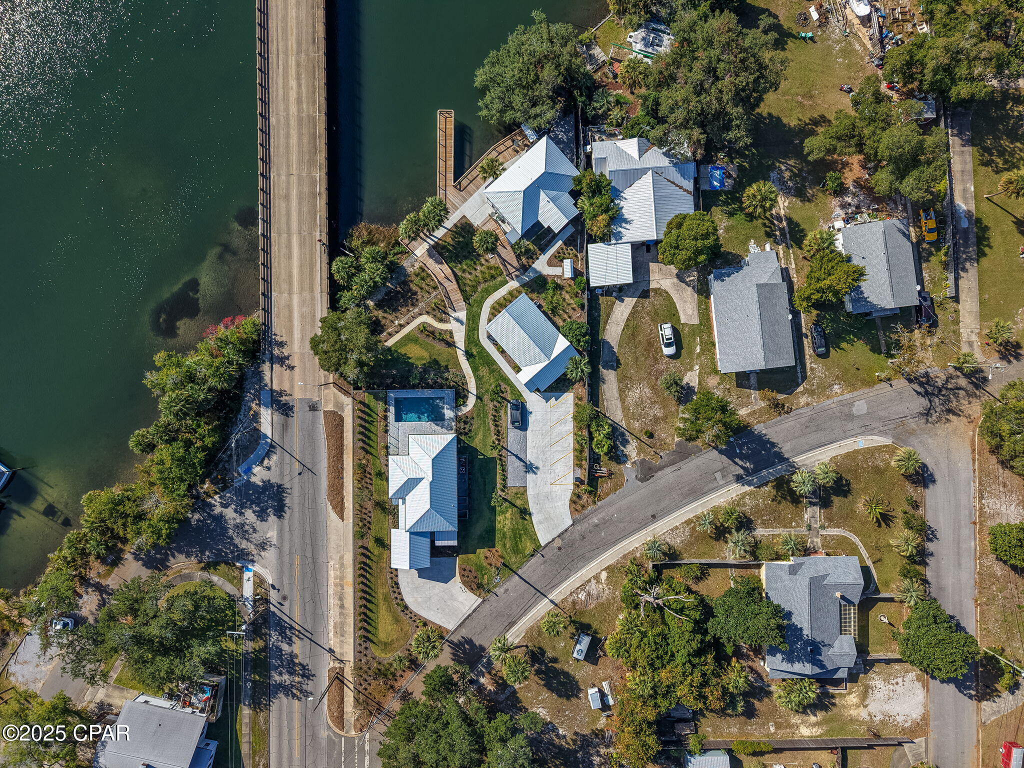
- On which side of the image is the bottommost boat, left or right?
left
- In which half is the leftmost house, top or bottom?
bottom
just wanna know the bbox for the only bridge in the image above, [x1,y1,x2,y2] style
[255,0,330,353]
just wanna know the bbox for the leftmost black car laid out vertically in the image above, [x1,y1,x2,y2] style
[509,399,523,427]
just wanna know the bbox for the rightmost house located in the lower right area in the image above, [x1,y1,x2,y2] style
[760,554,864,688]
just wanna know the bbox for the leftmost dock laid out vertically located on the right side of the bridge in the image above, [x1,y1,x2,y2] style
[438,107,454,199]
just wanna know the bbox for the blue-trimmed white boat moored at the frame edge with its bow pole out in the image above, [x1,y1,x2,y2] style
[0,464,21,488]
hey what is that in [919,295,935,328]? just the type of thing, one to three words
car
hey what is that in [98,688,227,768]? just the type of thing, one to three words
house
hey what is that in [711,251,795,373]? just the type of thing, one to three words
house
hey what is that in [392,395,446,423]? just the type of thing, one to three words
swimming pool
